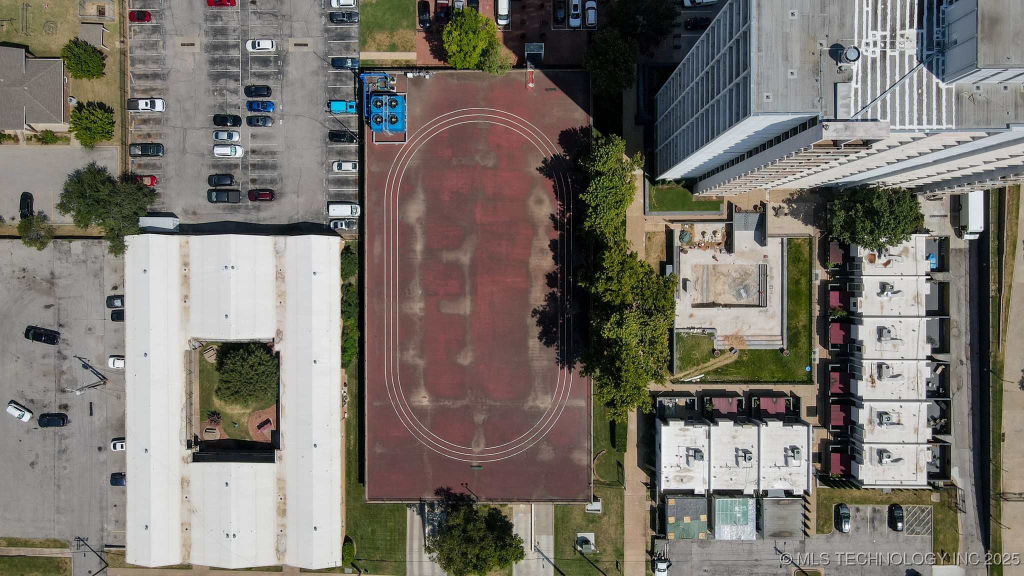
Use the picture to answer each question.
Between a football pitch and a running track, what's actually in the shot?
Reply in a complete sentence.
I can see a running track in this picture.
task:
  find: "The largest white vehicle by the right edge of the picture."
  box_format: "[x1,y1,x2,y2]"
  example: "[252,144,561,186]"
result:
[958,190,988,238]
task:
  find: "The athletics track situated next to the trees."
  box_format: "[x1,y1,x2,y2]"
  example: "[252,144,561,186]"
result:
[364,69,592,503]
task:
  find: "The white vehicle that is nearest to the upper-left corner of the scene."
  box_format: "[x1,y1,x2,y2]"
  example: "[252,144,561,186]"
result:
[127,96,167,112]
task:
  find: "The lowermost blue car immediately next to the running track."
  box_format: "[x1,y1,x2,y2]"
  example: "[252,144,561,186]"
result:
[328,100,358,113]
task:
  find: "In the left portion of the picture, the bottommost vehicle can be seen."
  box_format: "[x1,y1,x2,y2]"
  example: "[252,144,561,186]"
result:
[112,472,127,486]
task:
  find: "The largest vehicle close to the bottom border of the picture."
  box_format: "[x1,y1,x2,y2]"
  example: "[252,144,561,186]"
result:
[654,538,674,575]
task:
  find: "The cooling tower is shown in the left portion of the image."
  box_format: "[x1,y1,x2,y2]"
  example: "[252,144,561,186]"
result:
[360,74,409,145]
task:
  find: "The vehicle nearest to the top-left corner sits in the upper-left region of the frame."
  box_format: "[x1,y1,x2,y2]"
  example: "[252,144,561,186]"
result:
[130,10,154,23]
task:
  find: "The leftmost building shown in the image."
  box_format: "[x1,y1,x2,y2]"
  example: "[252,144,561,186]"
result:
[0,46,72,133]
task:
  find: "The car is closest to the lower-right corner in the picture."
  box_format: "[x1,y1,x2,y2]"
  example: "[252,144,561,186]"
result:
[890,503,904,530]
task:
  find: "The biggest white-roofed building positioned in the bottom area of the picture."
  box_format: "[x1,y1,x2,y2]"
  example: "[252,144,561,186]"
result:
[124,235,349,566]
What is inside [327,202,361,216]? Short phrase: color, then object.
white vehicle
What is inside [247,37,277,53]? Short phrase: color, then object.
white car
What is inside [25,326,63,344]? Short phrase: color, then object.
black vehicle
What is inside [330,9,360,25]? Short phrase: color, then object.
black car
